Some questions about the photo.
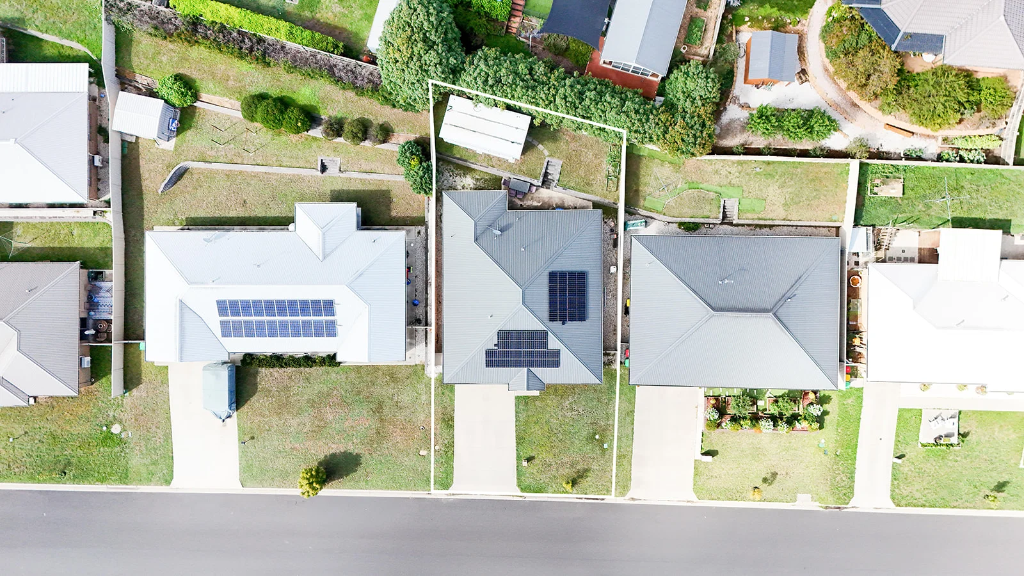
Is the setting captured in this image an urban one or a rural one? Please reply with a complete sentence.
It looks urban.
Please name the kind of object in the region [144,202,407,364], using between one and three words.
house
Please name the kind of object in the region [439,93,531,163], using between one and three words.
shed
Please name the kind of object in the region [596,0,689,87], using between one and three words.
shed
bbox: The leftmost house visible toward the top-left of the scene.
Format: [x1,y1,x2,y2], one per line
[0,61,98,204]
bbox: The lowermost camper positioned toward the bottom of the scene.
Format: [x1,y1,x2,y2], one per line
[202,363,237,420]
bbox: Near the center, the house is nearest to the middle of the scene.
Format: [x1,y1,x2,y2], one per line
[442,190,603,391]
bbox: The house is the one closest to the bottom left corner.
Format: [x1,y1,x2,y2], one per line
[0,260,89,407]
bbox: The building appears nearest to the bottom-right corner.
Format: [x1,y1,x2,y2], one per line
[858,228,1024,394]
